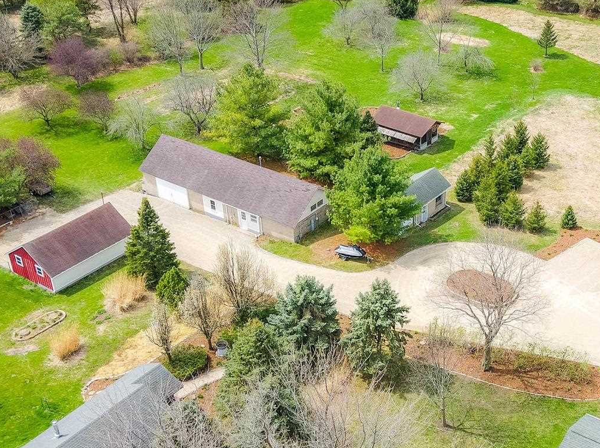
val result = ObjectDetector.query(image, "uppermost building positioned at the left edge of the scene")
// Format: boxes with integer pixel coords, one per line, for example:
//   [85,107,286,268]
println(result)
[5,202,137,293]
